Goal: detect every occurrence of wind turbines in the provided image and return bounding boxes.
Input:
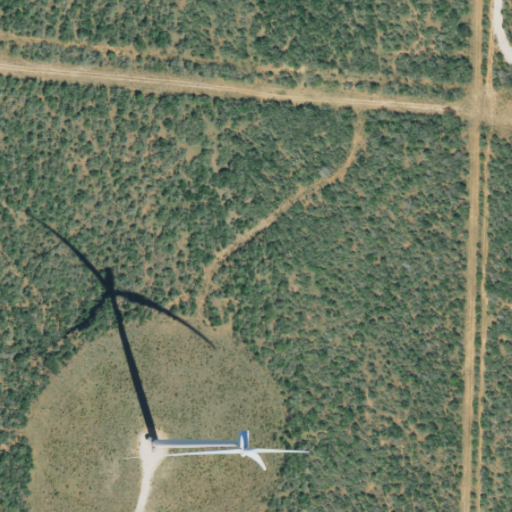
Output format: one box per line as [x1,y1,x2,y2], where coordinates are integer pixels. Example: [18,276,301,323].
[122,431,309,474]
